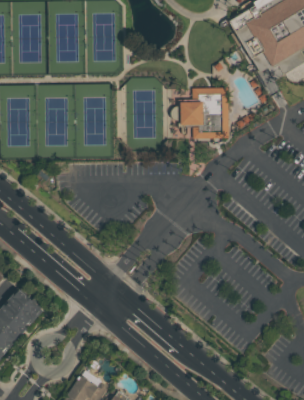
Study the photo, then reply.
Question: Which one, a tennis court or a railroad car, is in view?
tennis court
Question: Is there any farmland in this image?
No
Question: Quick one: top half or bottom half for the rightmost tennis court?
top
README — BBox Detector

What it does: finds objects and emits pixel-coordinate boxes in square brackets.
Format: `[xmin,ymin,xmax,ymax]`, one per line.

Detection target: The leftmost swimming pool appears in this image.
[98,358,116,382]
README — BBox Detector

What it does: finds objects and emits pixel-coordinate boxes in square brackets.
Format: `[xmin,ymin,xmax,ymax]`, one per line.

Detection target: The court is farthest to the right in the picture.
[126,77,162,150]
